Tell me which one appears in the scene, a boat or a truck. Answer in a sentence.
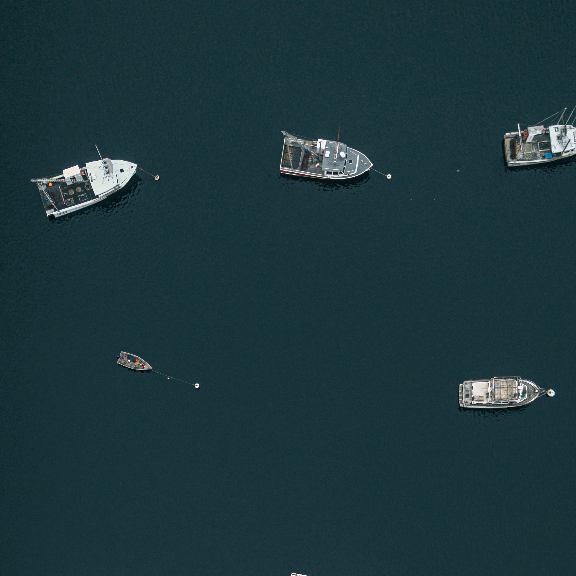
I can see a boat in this picture.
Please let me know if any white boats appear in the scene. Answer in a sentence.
Yes, the frame does contain a white boat.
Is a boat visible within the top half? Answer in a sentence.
Yes, looking within the top half, one can make out a boat.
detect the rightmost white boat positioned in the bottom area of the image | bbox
[460,376,544,408]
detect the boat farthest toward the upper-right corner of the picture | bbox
[504,106,576,165]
